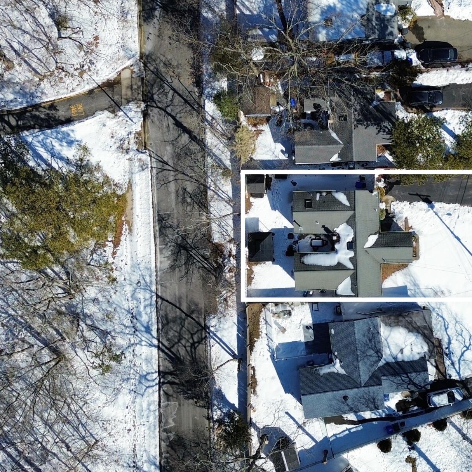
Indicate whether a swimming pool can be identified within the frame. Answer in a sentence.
No, I can't see a single swimming pool in this photo.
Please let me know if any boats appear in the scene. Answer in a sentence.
No, there appears to be no boat in this shot.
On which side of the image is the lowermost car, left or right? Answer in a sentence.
It is on the right.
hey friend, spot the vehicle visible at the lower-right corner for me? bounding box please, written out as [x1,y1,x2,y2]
[424,387,465,407]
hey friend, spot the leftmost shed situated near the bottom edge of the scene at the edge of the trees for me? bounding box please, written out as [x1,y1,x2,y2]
[272,440,300,472]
